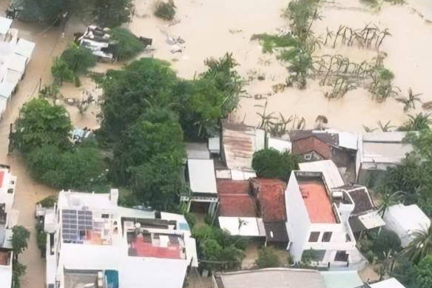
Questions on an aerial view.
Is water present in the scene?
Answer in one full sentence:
Yes, there is water in the image.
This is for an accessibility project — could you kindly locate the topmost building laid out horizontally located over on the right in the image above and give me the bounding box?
[290,132,343,147]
